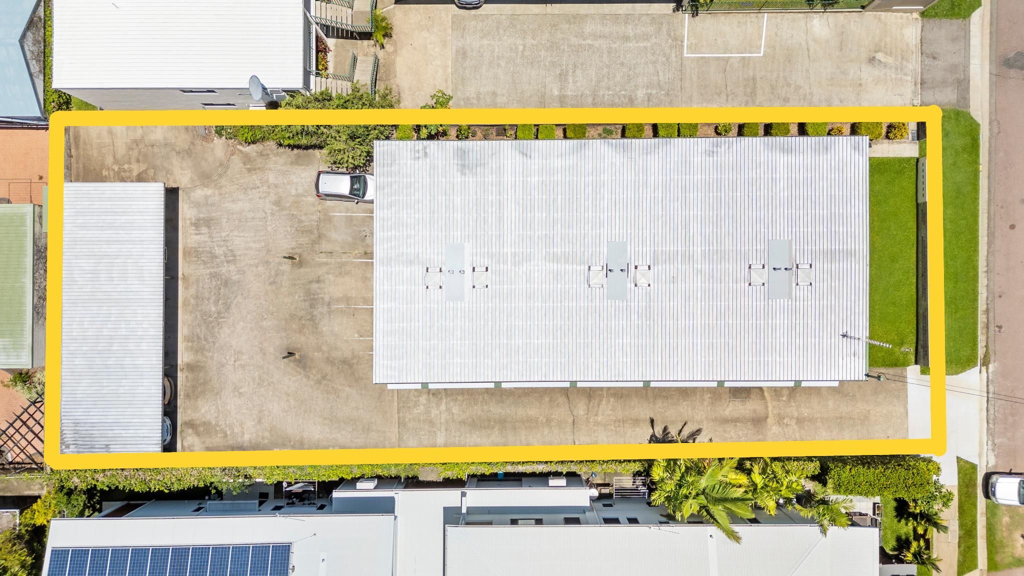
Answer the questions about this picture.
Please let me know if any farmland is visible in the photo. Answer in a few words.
No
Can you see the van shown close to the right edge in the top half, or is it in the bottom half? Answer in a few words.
bottom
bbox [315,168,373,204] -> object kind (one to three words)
car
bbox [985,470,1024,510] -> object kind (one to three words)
van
